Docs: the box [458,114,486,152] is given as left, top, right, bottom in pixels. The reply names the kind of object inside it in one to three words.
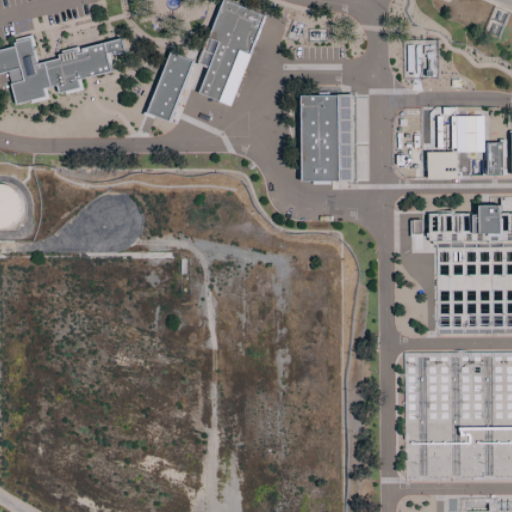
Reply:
building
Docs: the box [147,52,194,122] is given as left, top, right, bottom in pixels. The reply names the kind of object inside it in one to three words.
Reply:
building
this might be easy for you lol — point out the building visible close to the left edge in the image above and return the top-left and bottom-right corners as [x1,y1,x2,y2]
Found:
[0,34,124,104]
